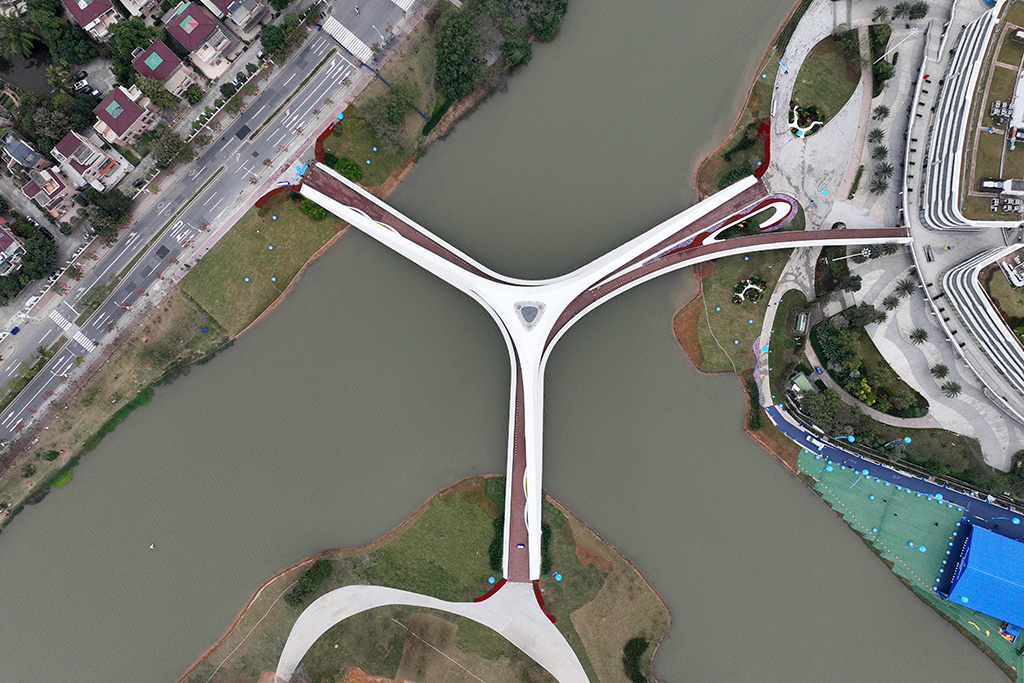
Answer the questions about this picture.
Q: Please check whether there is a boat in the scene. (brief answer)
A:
No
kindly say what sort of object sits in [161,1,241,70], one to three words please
house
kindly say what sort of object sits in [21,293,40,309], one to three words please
vehicle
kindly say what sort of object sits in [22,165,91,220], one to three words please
house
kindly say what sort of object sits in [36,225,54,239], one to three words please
car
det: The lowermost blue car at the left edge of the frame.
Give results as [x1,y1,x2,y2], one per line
[7,325,21,337]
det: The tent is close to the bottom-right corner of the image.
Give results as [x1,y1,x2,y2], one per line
[939,521,1024,626]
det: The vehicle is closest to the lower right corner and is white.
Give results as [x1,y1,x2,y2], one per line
[807,435,827,450]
